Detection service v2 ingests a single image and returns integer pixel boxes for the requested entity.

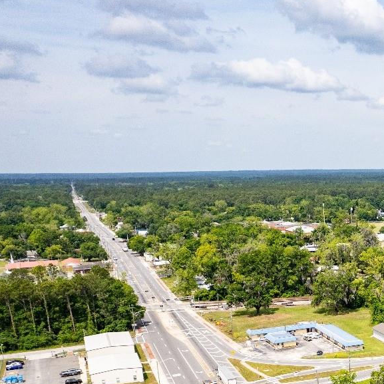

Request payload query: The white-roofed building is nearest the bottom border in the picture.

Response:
[88,355,148,384]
